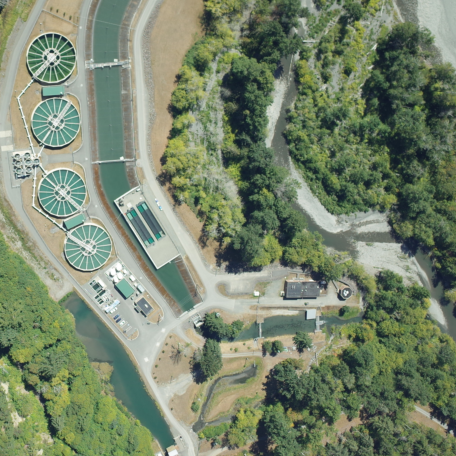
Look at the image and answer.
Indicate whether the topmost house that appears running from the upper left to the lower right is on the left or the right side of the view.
left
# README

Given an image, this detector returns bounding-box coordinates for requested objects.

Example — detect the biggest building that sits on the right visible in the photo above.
[284,280,327,297]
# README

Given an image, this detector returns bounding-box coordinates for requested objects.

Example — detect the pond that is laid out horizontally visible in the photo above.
[195,312,362,341]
